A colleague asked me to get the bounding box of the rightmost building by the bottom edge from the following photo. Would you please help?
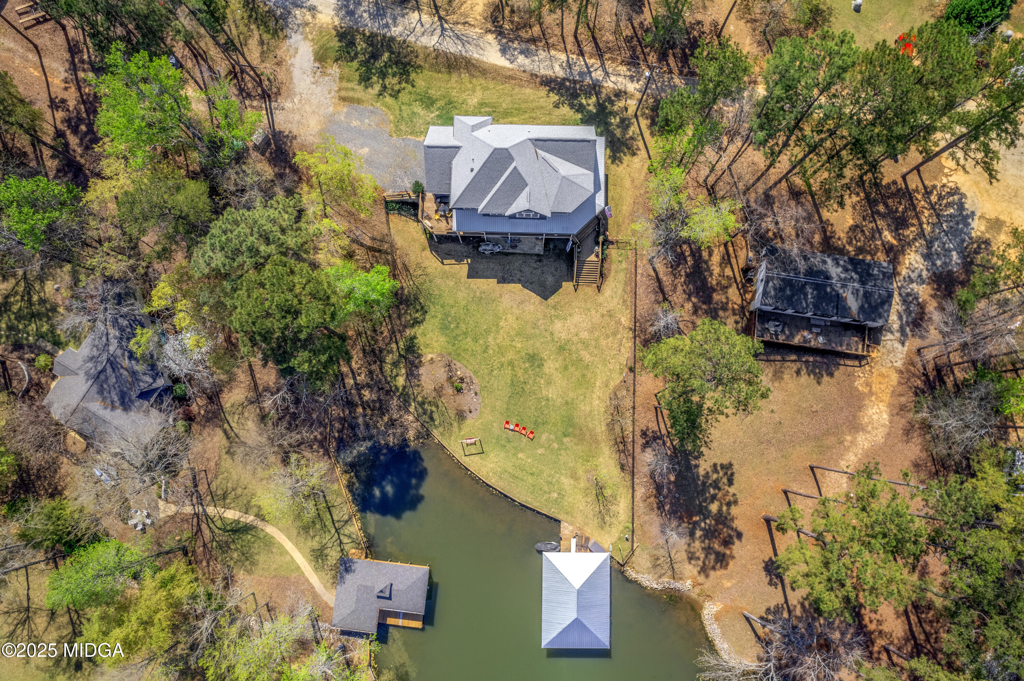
[541,521,610,650]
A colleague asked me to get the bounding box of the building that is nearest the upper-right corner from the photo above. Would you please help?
[739,246,895,361]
